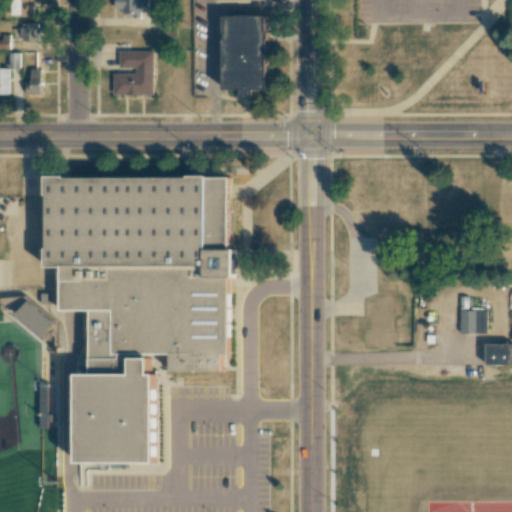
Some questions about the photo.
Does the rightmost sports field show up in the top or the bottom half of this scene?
bottom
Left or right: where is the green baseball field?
left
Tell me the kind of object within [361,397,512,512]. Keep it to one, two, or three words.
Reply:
sports field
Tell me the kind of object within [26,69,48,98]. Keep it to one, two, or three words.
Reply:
house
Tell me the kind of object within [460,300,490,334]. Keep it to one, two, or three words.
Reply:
barn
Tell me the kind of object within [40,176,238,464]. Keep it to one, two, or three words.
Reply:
building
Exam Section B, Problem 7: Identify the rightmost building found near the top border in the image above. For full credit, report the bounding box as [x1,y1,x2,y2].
[220,16,269,97]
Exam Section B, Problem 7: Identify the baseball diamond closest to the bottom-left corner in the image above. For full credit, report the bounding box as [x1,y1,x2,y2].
[0,314,63,512]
